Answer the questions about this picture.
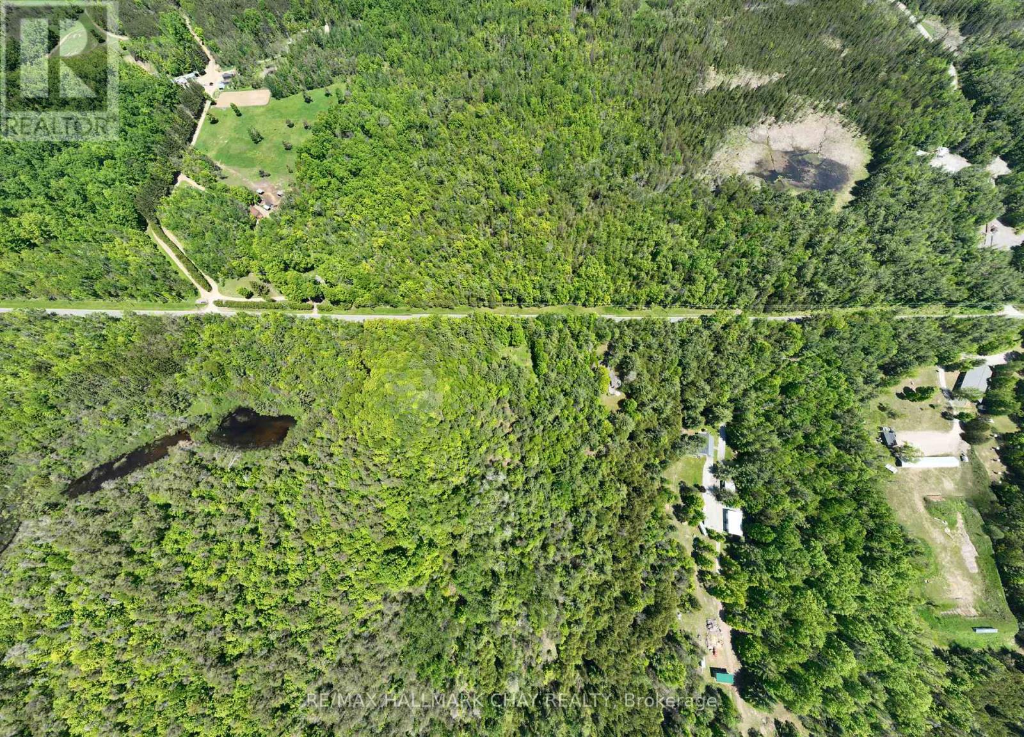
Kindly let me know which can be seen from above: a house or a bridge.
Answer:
house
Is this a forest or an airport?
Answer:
forest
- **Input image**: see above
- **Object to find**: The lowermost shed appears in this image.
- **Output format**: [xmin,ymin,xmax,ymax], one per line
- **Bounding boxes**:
[712,667,734,685]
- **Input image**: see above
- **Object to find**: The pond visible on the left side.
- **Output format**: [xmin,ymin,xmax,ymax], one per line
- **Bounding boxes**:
[209,408,295,448]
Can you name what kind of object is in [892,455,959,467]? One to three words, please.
barn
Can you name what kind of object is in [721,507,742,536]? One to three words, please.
building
